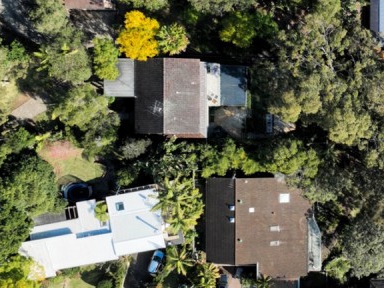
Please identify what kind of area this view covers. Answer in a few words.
residential area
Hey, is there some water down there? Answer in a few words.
No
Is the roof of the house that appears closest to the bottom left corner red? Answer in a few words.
No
